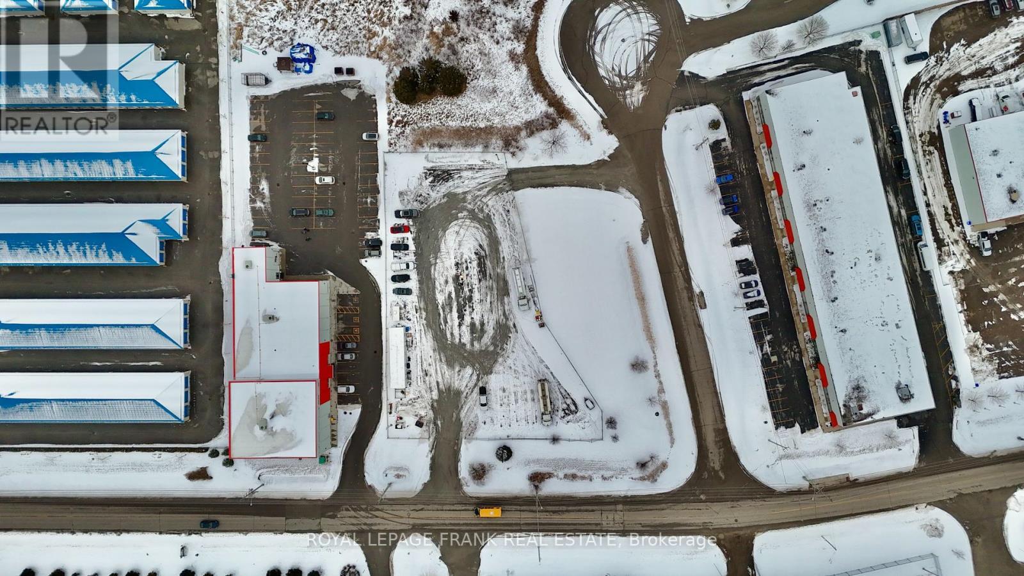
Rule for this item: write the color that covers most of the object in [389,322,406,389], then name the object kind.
white trailer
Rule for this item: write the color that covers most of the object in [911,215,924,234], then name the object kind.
blue vehicle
